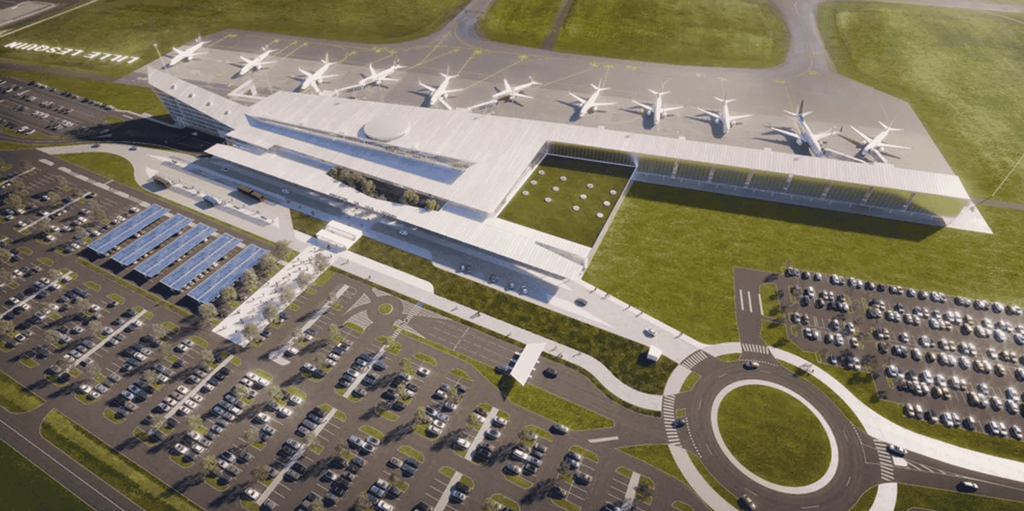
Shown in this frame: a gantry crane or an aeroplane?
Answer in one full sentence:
It is an aeroplane that can be seen here.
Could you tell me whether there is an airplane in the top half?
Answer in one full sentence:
Yes, an airplane can be seen in the top half.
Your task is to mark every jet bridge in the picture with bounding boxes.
[437,96,455,111]
[334,82,367,98]
[466,97,500,112]
[824,145,868,163]
[868,146,890,166]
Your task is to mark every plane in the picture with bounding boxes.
[238,42,278,75]
[770,97,842,157]
[698,89,753,134]
[357,56,406,84]
[300,53,340,89]
[168,32,210,65]
[491,73,542,99]
[852,118,911,155]
[420,66,465,105]
[570,78,618,117]
[632,85,684,125]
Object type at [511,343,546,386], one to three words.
toll station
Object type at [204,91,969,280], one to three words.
building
